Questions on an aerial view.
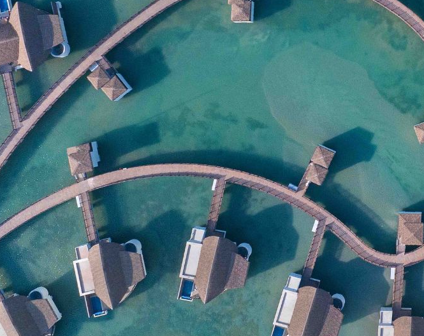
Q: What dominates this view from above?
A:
water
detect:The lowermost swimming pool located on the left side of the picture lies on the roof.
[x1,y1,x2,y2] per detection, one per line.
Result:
[88,291,109,316]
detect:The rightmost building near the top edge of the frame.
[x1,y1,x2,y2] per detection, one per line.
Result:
[228,0,256,23]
